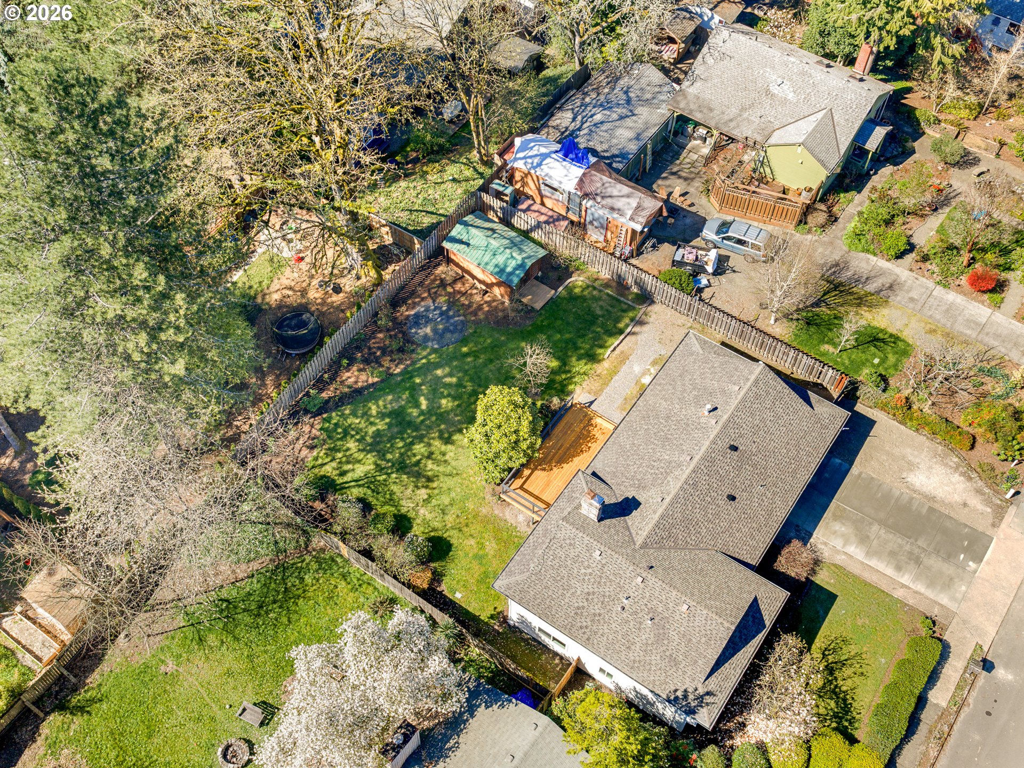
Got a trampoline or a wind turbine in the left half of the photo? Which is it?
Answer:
trampoline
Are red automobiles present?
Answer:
No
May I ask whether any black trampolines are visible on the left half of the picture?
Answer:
Yes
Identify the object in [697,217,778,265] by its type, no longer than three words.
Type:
car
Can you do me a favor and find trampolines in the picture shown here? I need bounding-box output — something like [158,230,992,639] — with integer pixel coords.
[261,297,327,362]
